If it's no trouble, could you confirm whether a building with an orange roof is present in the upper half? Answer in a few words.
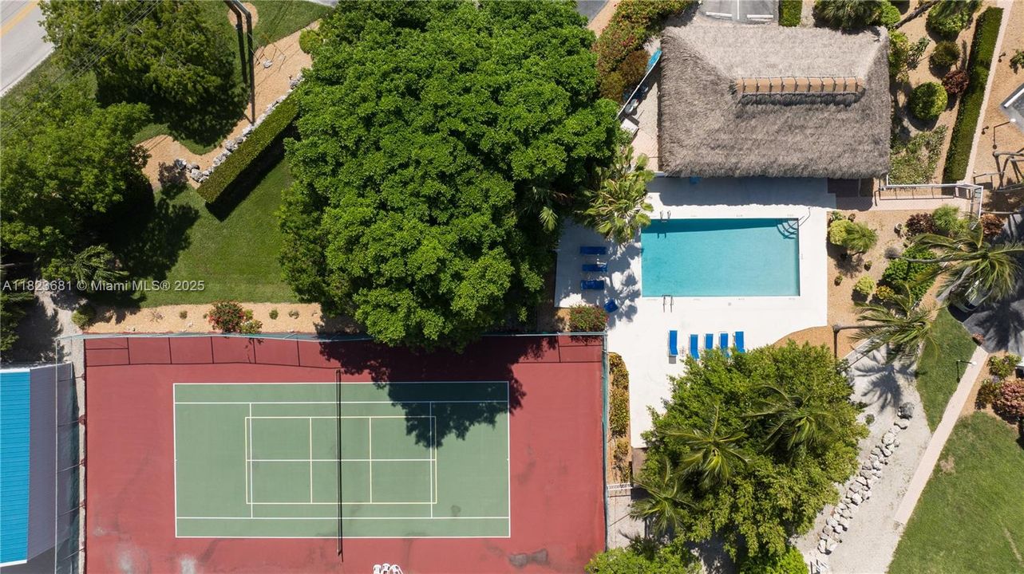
No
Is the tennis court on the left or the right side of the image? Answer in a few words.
left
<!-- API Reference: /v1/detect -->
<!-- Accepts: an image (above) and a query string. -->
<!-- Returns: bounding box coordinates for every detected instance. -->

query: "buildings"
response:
[0,366,70,565]
[656,21,894,179]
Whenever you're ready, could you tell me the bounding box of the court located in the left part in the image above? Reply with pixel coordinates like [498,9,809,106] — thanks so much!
[84,331,606,574]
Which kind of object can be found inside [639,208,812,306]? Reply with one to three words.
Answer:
swimming pool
